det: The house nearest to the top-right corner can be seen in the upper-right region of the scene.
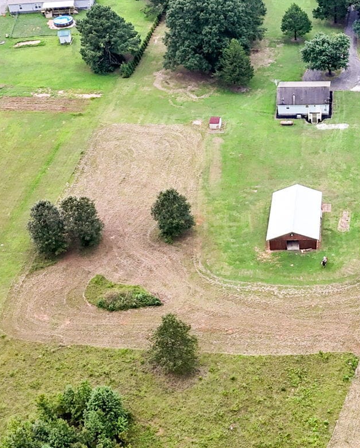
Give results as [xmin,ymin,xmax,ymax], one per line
[275,81,332,125]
